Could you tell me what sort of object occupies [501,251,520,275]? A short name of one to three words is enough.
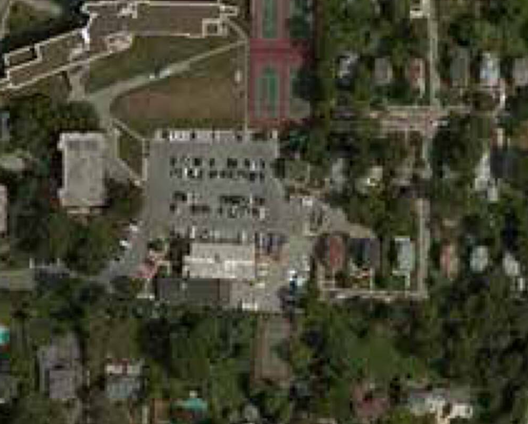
house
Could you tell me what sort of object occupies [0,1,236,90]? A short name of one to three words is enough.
building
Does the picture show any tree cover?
Yes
